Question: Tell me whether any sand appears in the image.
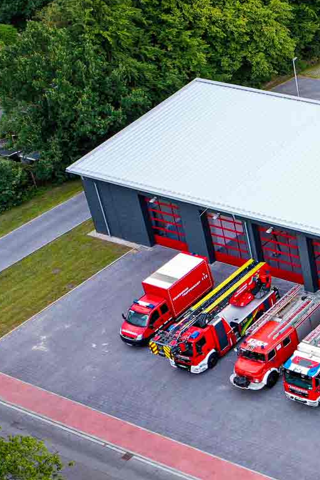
No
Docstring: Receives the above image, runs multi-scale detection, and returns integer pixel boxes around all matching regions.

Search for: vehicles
[234,282,320,390]
[278,320,320,410]
[149,260,279,376]
[118,253,215,350]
